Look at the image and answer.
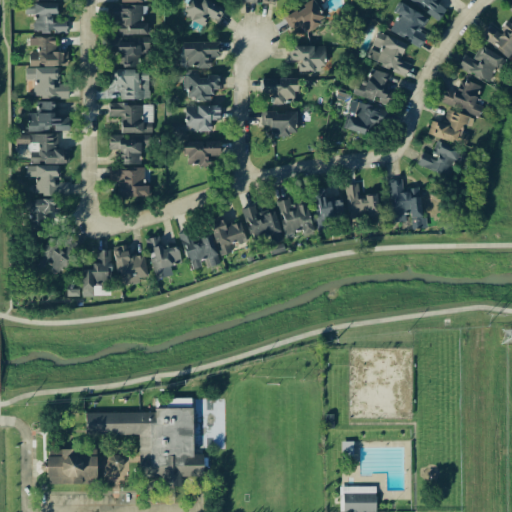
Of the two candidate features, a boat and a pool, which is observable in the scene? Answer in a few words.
pool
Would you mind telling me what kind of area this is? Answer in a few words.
residential area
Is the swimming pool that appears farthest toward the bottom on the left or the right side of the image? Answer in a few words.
right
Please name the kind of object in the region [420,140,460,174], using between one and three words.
house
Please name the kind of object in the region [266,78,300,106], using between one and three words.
house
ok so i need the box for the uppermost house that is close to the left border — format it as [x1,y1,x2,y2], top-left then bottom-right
[25,4,68,34]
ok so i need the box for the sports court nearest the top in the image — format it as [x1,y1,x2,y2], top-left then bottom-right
[349,346,412,418]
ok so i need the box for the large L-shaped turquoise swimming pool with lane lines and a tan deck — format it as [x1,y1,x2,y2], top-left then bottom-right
[342,438,411,498]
